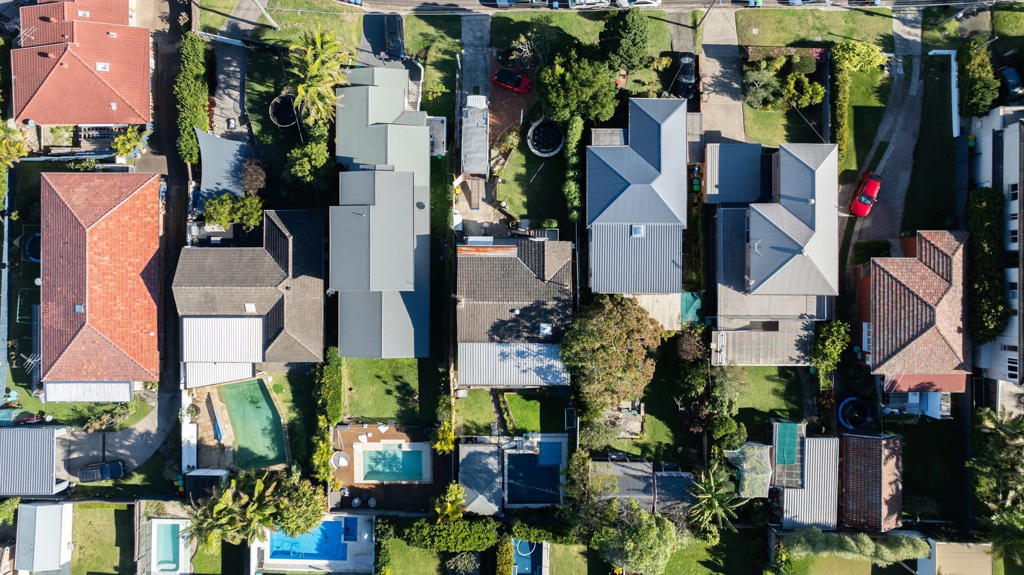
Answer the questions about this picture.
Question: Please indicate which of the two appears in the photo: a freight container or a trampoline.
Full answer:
There is a trampoline in the scene.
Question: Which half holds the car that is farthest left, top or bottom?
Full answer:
The bottom half of the photo is where the car that is farthest left is.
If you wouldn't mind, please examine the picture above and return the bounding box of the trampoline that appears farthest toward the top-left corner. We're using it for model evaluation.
[14,232,40,263]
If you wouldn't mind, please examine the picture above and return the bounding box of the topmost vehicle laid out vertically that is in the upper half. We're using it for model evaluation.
[382,12,405,63]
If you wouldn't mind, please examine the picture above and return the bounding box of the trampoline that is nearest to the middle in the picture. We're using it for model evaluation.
[527,121,564,158]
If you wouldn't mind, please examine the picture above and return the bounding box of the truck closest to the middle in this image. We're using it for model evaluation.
[461,94,491,177]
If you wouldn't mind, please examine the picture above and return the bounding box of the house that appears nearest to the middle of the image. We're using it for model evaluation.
[446,228,572,387]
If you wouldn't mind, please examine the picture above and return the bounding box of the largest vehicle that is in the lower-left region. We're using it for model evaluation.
[74,458,129,484]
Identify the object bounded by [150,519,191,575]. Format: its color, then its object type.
white swimming pool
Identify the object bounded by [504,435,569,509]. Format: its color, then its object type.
black swimming pool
